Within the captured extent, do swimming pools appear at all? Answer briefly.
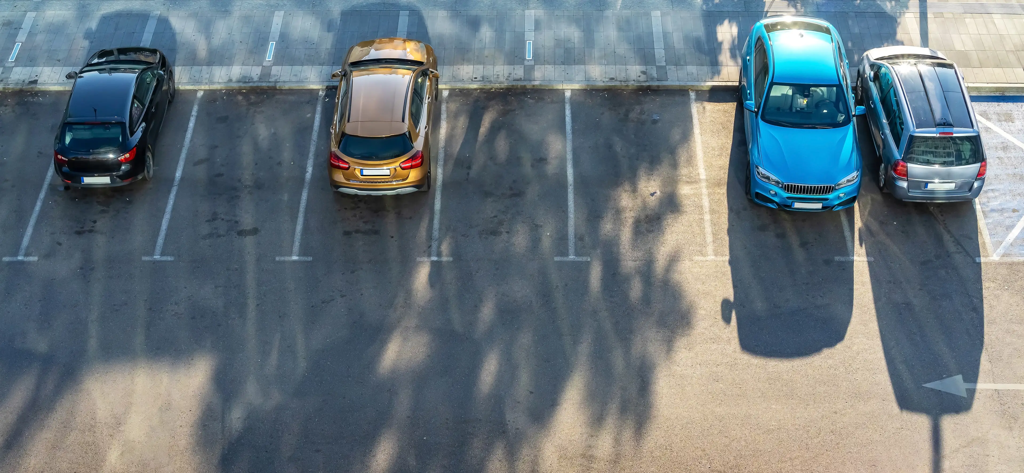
No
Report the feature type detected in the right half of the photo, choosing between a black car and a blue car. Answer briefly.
blue car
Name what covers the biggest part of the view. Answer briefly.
paved ground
